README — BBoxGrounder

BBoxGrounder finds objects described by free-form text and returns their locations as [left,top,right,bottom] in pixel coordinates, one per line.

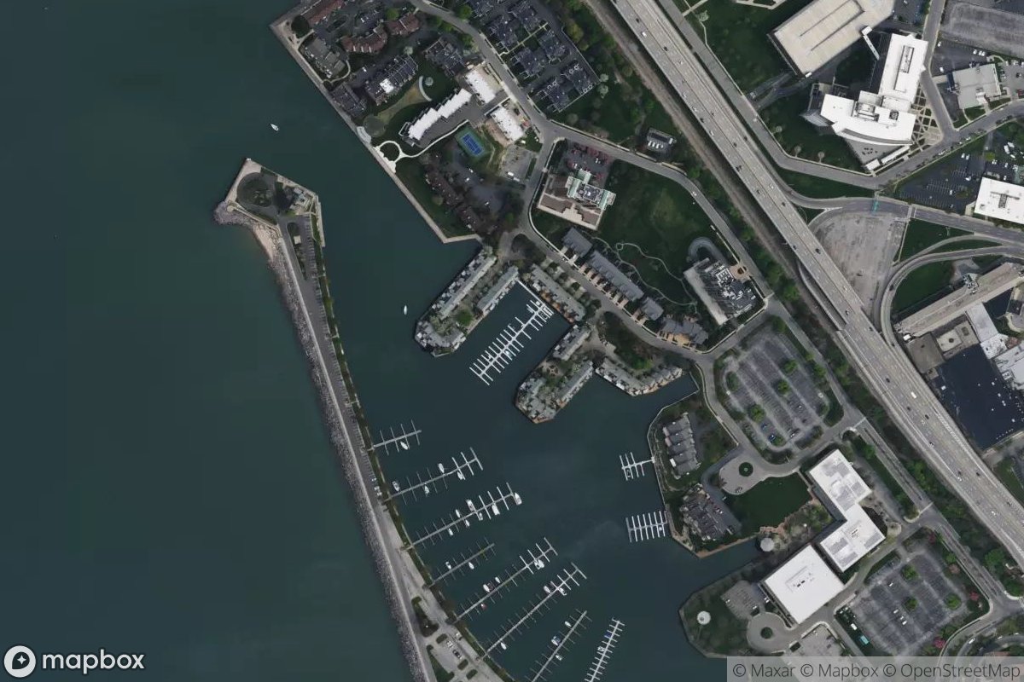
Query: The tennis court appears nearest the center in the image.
[455,125,490,160]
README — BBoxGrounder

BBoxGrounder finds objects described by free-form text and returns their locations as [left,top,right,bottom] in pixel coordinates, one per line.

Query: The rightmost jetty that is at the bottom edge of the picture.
[586,619,625,682]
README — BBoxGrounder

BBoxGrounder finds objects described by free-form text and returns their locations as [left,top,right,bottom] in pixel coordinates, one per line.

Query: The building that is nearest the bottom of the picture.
[762,545,844,624]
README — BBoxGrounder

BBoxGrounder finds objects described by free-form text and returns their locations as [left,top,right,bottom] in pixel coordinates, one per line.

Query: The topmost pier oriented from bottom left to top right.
[470,300,553,386]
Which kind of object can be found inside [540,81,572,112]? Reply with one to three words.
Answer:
house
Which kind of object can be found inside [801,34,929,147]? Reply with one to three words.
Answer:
building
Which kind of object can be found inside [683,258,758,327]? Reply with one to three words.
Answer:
building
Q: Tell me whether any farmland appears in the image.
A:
No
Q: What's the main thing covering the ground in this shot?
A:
water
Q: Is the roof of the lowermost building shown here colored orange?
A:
No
